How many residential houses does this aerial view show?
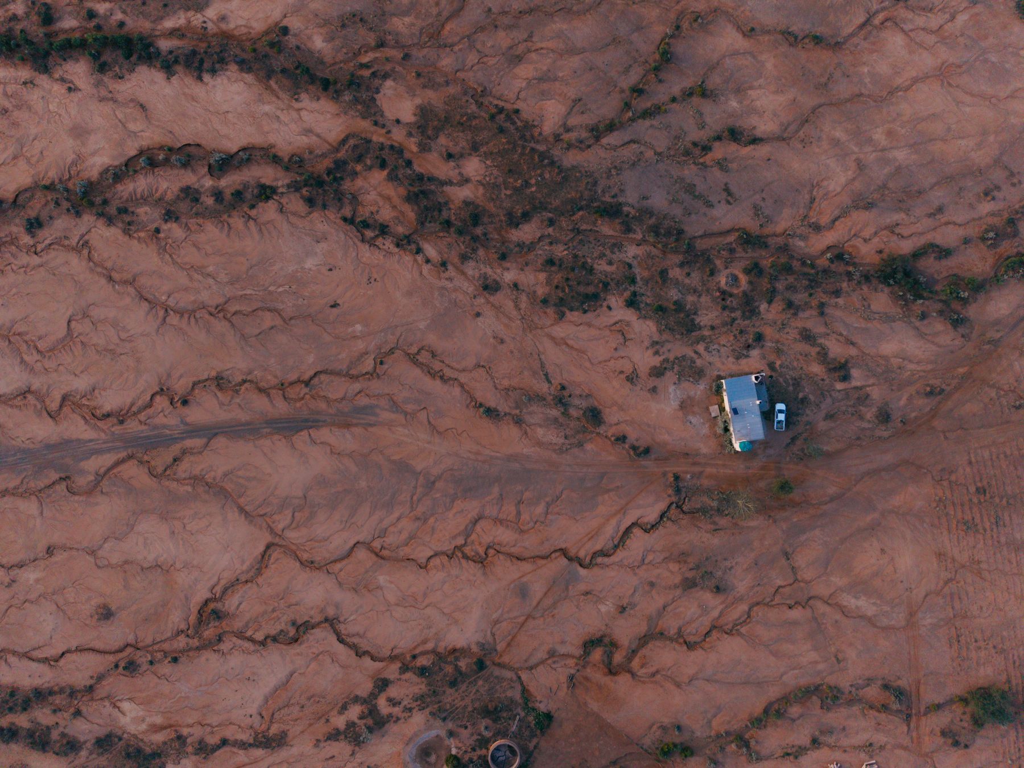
one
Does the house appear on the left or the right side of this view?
right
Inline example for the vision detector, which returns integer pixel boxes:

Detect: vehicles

[773,403,787,432]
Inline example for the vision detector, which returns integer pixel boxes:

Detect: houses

[718,373,770,451]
